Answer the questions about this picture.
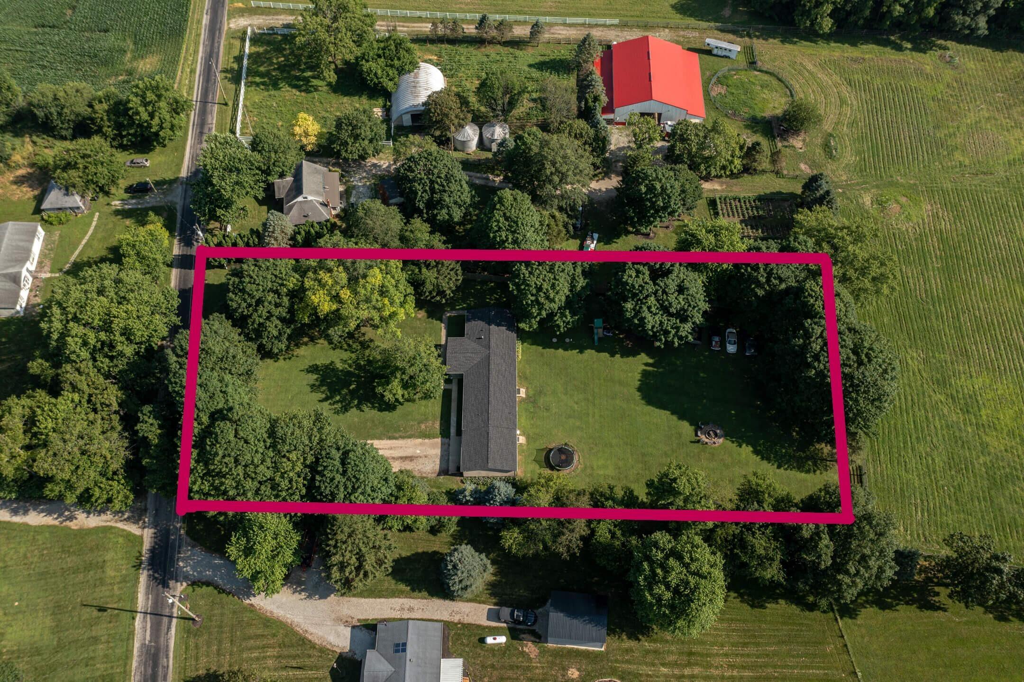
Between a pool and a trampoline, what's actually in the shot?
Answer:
trampoline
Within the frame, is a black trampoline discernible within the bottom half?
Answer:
Yes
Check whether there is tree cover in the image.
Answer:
Yes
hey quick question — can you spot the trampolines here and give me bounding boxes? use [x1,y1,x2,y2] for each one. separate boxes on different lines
[549,439,578,473]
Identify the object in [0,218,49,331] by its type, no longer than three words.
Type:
house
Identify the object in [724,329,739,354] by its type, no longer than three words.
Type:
car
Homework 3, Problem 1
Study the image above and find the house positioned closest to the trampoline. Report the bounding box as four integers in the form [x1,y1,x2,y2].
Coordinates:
[446,305,527,478]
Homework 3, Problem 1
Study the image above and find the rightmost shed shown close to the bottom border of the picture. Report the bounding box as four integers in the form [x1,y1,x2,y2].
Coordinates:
[547,591,607,651]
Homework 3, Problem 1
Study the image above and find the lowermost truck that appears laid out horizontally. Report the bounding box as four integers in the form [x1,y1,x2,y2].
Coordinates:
[497,606,540,627]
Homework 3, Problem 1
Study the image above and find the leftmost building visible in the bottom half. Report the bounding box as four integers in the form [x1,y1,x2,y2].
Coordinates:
[363,620,465,682]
